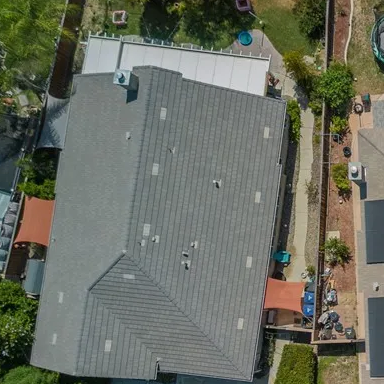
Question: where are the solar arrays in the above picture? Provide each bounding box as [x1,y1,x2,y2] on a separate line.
[364,199,384,263]
[367,298,384,377]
